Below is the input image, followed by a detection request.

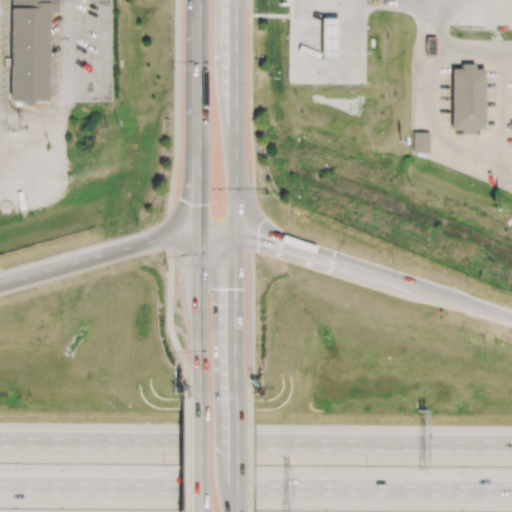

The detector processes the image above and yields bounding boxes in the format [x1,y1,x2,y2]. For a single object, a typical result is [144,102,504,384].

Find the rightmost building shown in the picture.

[456,64,486,134]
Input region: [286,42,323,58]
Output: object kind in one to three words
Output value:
vehicle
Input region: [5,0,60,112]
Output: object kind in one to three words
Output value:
building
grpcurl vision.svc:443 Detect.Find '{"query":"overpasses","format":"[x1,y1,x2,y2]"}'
[182,386,258,512]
